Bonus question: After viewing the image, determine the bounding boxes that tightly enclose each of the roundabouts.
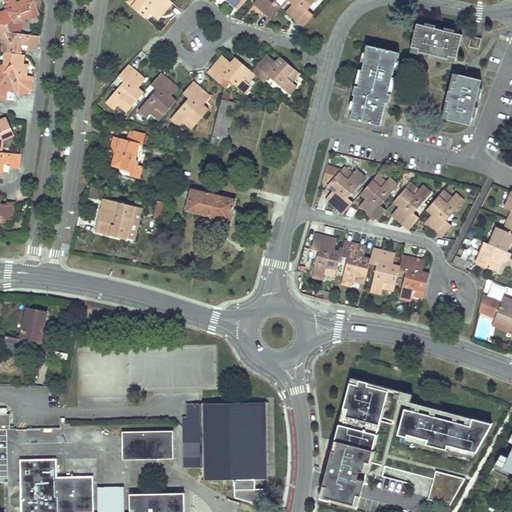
[212,264,337,392]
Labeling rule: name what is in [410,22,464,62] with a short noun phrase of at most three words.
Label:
building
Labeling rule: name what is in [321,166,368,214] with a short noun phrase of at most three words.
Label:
house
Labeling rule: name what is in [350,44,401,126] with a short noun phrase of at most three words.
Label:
building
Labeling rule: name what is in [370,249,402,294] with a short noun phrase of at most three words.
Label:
house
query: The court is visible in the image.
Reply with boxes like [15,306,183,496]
[77,345,217,408]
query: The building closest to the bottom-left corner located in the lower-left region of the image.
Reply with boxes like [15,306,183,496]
[18,459,57,512]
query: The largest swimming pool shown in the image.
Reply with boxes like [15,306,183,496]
[475,312,492,341]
